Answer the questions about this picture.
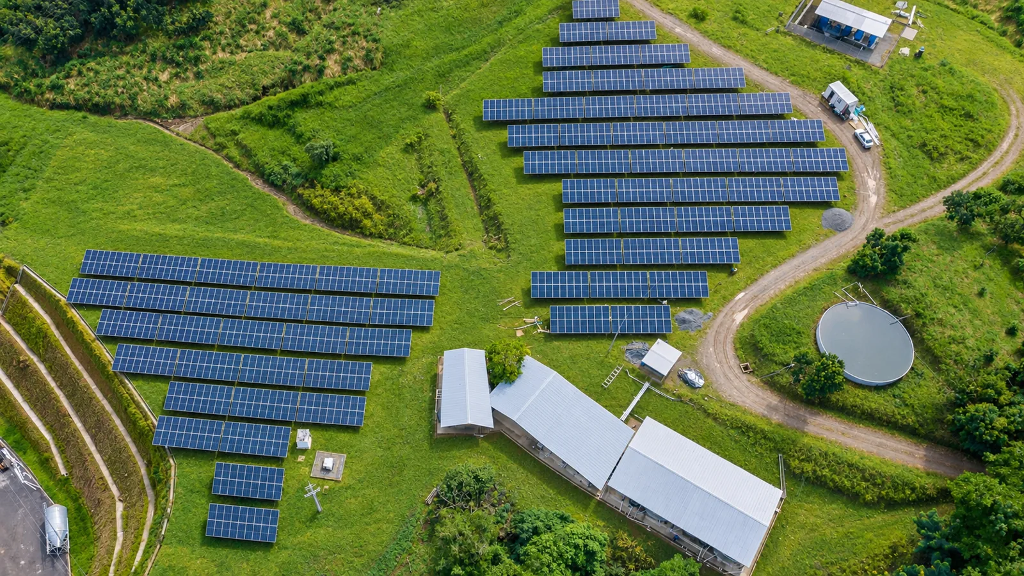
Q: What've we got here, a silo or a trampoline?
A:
silo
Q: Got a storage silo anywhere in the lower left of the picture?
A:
Yes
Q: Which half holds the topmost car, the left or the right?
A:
right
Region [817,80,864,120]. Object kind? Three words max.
building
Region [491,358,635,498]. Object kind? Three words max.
barn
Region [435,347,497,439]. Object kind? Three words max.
shed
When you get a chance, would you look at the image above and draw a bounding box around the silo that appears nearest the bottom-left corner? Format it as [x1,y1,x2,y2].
[43,503,71,558]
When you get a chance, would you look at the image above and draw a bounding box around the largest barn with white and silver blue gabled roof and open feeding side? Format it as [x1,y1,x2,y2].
[600,417,788,576]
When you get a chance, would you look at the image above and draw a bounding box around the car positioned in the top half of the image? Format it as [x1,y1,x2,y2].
[852,129,876,151]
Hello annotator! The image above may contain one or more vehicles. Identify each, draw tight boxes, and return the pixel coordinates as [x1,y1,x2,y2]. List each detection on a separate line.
[852,129,876,151]
[0,454,13,477]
